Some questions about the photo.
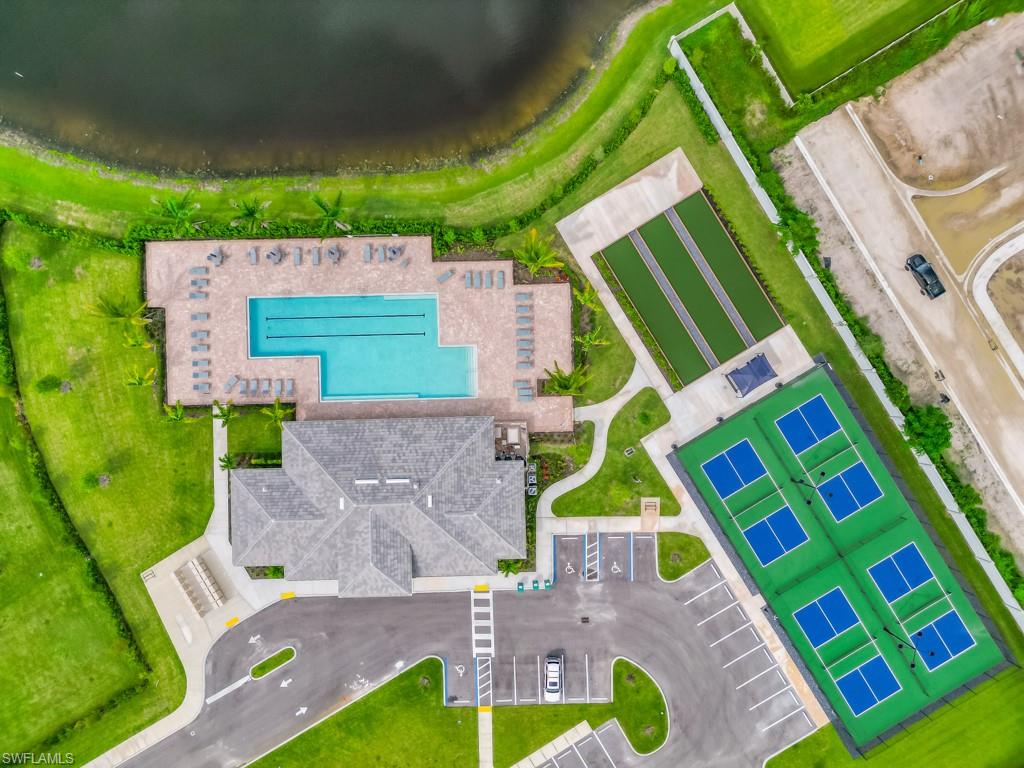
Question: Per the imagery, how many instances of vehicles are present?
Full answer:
The count of vehicles comes to 2.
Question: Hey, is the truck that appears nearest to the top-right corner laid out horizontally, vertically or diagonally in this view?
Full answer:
The truck that appears nearest to the top-right corner runs diagonally in the image.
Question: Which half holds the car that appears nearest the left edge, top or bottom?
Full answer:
Seen from above, the car that appears nearest the left edge lies in the bottom half of the view.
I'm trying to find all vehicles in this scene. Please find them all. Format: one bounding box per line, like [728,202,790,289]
[544,655,564,700]
[906,254,948,302]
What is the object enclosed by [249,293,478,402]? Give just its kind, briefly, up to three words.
swimming pool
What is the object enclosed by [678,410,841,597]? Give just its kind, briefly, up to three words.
sports court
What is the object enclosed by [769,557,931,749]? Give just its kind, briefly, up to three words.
sports court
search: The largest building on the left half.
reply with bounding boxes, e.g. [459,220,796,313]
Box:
[231,416,527,597]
